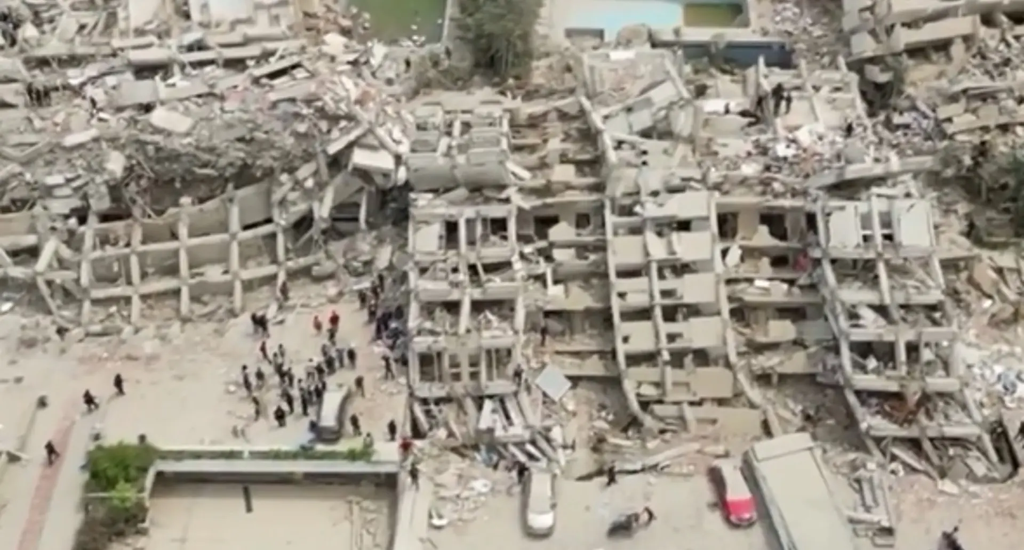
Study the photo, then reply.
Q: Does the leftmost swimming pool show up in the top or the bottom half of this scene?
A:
top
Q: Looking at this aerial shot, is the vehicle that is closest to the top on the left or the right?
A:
left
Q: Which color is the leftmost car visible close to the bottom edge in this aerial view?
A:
white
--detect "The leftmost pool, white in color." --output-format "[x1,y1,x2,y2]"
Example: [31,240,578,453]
[553,0,680,43]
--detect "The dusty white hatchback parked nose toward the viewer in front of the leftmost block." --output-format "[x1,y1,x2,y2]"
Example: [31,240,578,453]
[522,468,558,537]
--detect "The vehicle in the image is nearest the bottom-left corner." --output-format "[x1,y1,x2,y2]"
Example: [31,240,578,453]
[313,380,349,437]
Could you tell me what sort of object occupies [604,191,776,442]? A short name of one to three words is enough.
building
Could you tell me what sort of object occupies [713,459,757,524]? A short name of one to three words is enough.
car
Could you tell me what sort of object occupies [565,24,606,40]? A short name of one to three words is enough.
shed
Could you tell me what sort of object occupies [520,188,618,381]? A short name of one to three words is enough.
building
